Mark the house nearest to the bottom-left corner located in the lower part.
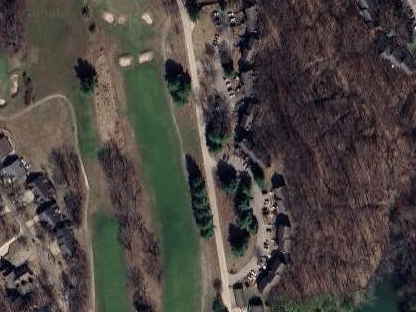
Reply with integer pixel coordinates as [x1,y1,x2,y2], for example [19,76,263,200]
[1,269,34,291]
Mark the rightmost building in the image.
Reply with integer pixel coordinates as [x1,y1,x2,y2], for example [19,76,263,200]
[382,48,412,77]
